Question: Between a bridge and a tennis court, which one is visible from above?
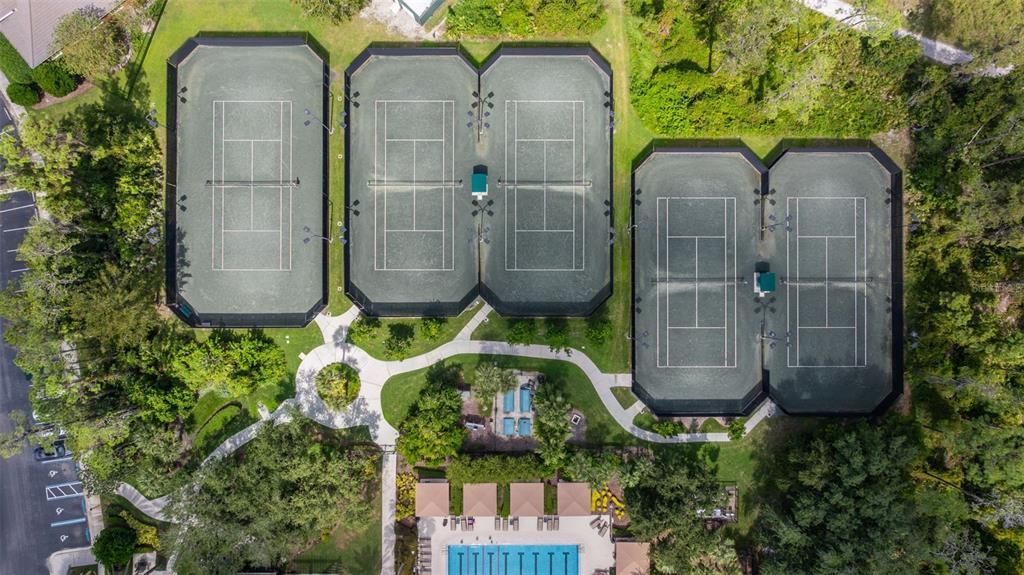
tennis court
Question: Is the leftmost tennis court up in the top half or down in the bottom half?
top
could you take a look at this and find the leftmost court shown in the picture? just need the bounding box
[177,45,322,326]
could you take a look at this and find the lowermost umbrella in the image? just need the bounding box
[418,519,434,536]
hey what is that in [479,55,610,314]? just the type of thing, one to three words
tennis court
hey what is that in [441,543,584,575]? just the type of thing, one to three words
swimming pool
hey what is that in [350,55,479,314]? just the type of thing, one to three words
tennis court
